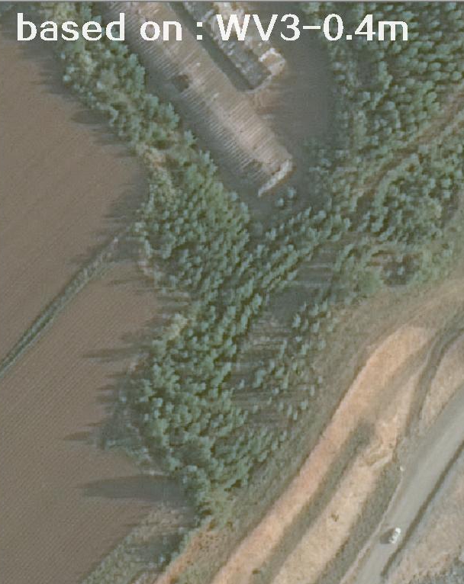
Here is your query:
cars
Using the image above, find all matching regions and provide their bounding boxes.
[387,527,400,543]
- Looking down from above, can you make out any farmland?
Yes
